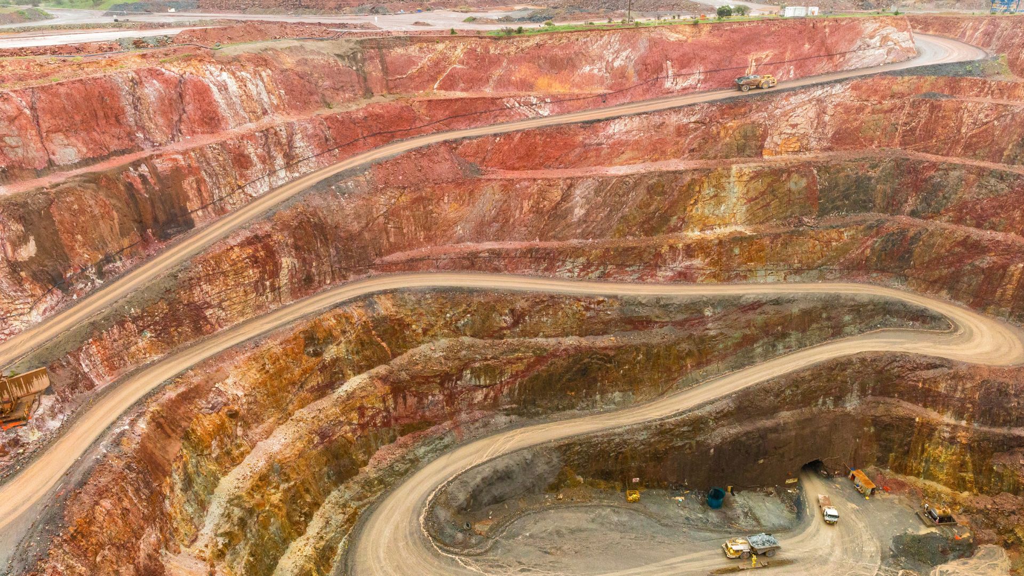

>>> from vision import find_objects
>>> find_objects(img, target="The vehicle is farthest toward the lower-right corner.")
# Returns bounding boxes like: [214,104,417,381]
[817,489,844,523]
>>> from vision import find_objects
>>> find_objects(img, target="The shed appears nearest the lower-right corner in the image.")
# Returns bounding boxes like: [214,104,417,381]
[848,464,880,494]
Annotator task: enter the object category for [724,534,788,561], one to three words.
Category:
truck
